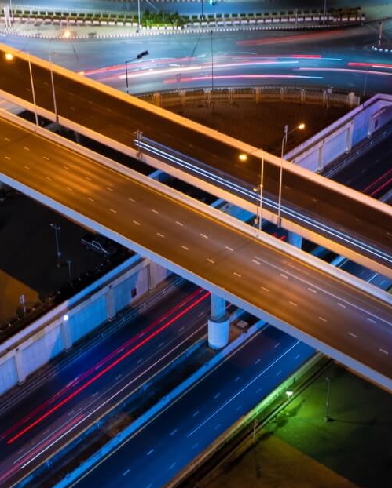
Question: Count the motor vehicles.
1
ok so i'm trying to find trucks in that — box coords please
[77,227,116,255]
